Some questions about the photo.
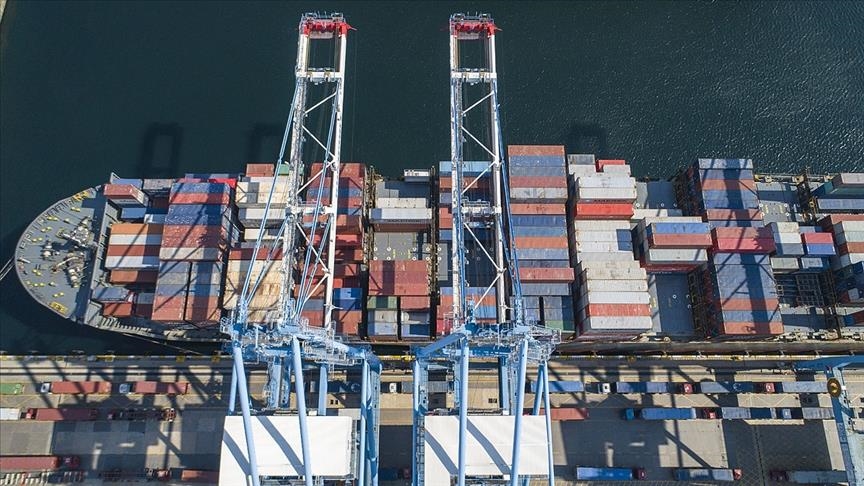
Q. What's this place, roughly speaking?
port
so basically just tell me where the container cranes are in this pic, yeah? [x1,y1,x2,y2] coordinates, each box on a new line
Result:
[407,9,565,486]
[786,362,864,486]
[216,9,403,486]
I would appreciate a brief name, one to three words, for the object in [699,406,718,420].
vehicle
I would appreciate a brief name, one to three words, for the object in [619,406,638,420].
vehicle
